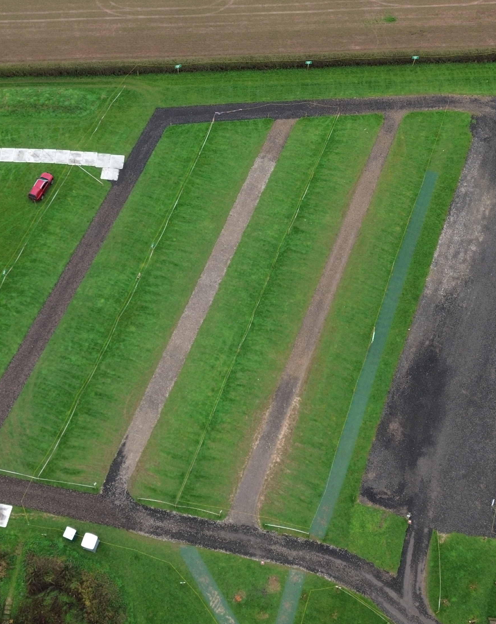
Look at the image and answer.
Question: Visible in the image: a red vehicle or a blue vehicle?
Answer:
red vehicle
